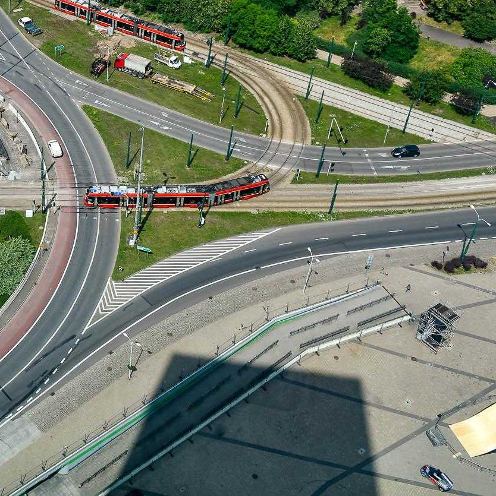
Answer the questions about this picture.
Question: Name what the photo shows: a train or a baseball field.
train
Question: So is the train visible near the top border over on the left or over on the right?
left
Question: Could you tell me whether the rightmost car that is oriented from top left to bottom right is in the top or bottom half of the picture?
bottom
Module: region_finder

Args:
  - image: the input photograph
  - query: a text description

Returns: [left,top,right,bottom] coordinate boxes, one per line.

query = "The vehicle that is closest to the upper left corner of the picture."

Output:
[20,14,42,32]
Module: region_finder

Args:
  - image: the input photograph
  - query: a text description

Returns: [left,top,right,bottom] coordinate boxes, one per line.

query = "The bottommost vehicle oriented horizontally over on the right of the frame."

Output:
[394,142,421,156]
